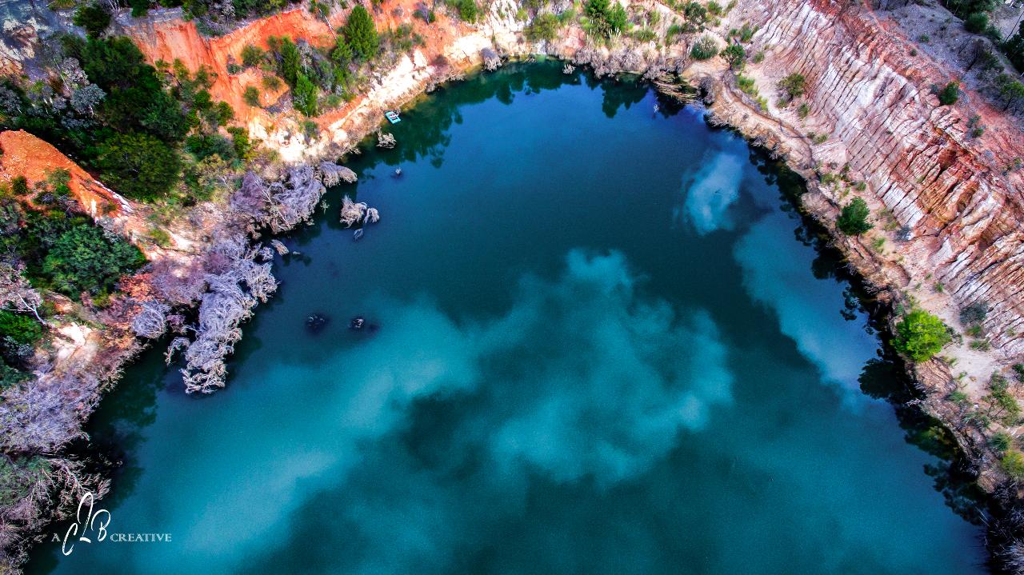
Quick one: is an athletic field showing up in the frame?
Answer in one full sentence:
No, no athletic field is visible in the scene.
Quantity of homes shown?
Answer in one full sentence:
There are no homes in this view.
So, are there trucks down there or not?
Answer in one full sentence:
No, the scene contains no truck.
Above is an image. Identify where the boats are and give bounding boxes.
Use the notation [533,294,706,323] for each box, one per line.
[388,112,403,127]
